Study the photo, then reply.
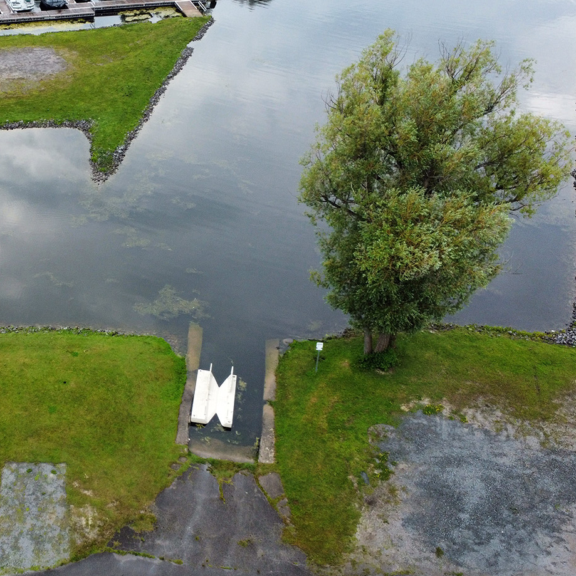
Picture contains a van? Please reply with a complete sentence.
No, no van can be seen from above.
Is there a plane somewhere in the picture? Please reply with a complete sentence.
No, the photo shows no plane.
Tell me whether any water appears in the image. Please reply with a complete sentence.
Yes, the picture does contain water.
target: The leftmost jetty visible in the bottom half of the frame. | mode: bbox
[190,370,209,427]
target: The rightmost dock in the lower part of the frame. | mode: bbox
[221,375,236,427]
